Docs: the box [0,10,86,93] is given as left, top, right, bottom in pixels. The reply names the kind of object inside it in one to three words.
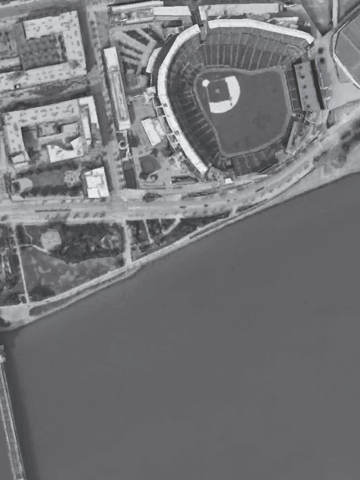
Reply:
building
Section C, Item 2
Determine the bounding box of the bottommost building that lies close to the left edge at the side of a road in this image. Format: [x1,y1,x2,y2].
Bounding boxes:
[1,97,98,163]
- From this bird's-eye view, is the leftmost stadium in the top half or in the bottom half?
top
